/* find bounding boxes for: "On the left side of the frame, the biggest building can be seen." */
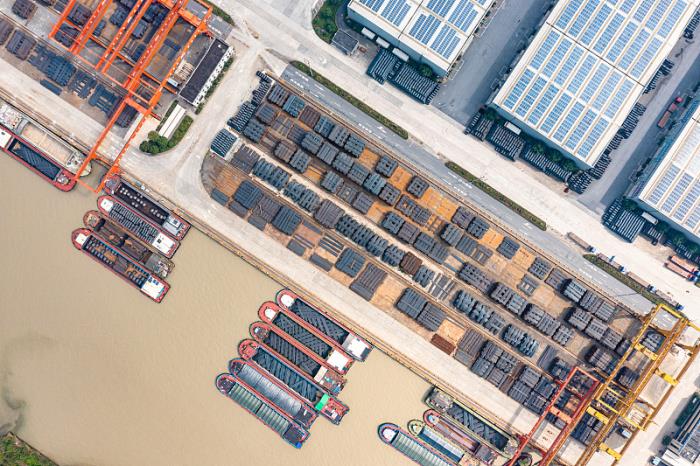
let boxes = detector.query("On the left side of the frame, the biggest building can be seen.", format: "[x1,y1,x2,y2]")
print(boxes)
[178,39,234,108]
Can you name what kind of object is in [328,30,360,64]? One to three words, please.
shed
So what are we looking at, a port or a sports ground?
port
